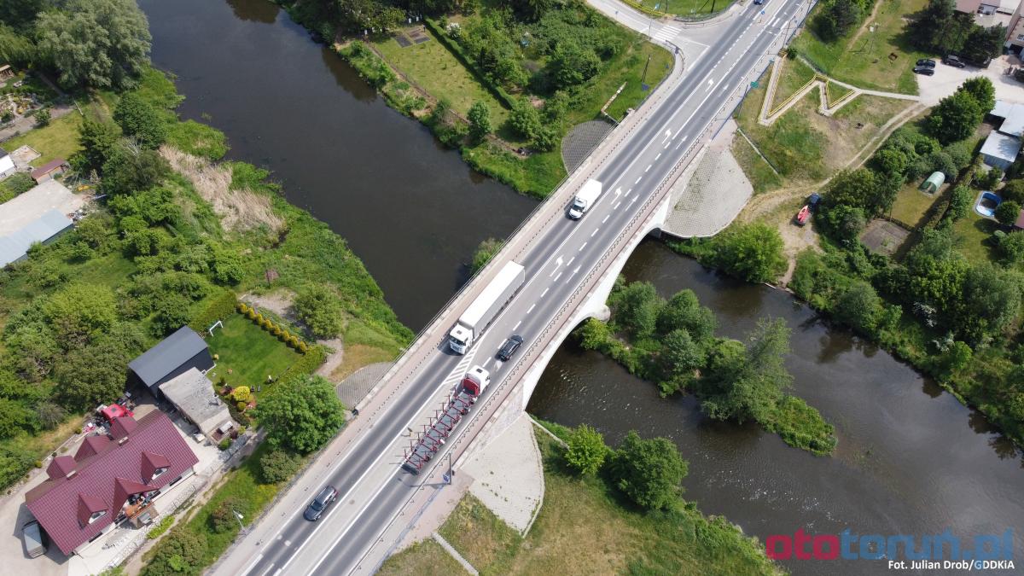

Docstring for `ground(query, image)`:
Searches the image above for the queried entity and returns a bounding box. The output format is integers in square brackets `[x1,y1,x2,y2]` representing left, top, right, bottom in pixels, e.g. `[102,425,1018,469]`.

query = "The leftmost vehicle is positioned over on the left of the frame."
[17,519,46,560]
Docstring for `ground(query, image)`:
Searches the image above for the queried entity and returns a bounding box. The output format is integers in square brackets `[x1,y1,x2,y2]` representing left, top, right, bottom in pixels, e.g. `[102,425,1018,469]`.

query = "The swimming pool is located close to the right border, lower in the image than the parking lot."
[973,192,1002,221]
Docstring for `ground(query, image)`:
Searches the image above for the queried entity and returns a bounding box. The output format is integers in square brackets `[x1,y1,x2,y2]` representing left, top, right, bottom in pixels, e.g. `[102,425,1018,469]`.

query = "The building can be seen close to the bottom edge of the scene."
[27,409,200,558]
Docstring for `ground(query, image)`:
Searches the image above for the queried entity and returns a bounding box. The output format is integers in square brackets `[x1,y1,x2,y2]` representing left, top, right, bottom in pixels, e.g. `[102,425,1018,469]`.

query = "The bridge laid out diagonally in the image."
[345,105,716,479]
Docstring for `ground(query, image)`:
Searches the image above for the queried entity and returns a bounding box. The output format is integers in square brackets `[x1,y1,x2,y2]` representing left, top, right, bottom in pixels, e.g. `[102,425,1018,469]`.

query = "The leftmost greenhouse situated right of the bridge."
[919,170,944,197]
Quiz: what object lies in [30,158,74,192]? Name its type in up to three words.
shed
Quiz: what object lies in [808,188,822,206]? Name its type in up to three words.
car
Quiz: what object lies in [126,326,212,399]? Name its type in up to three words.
shed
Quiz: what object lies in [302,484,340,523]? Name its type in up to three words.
car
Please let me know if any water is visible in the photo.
Yes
